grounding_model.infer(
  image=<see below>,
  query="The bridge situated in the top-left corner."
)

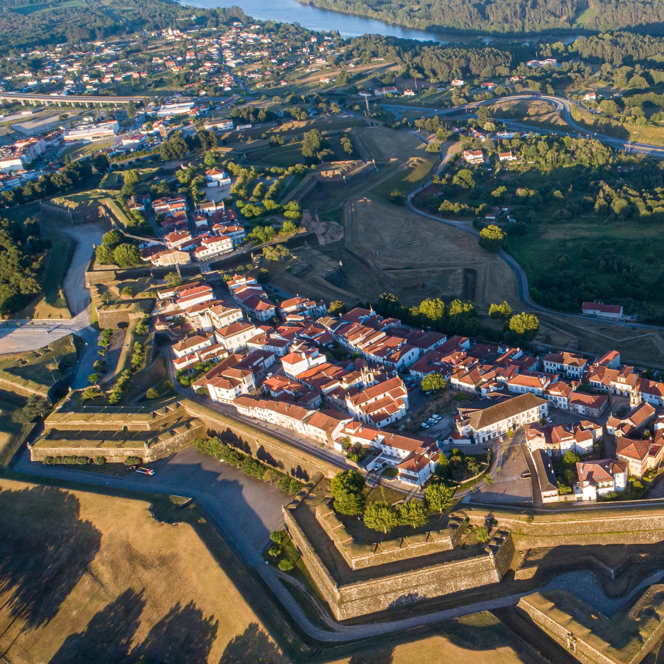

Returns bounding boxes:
[0,93,152,107]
